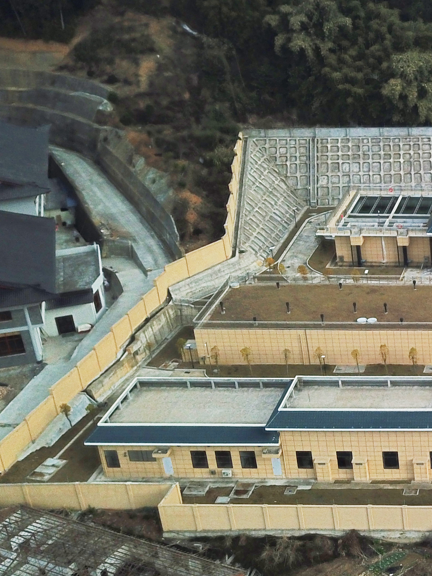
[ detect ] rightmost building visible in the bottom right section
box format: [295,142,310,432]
[264,375,432,487]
